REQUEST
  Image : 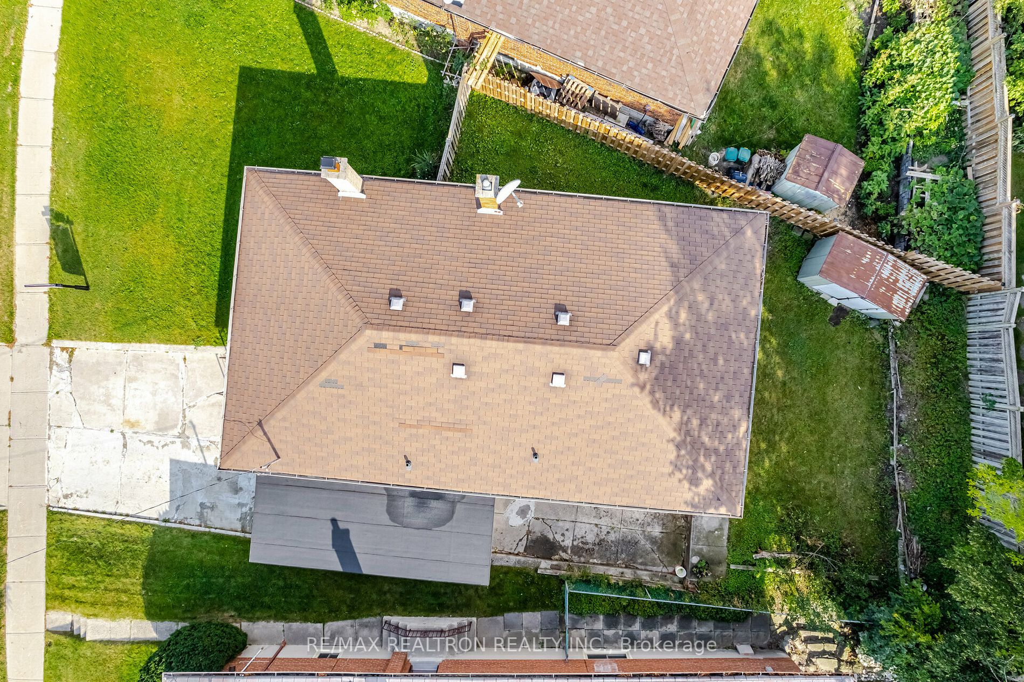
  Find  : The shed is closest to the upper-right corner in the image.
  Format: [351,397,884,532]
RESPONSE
[774,134,863,215]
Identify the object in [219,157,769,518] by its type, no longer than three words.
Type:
house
